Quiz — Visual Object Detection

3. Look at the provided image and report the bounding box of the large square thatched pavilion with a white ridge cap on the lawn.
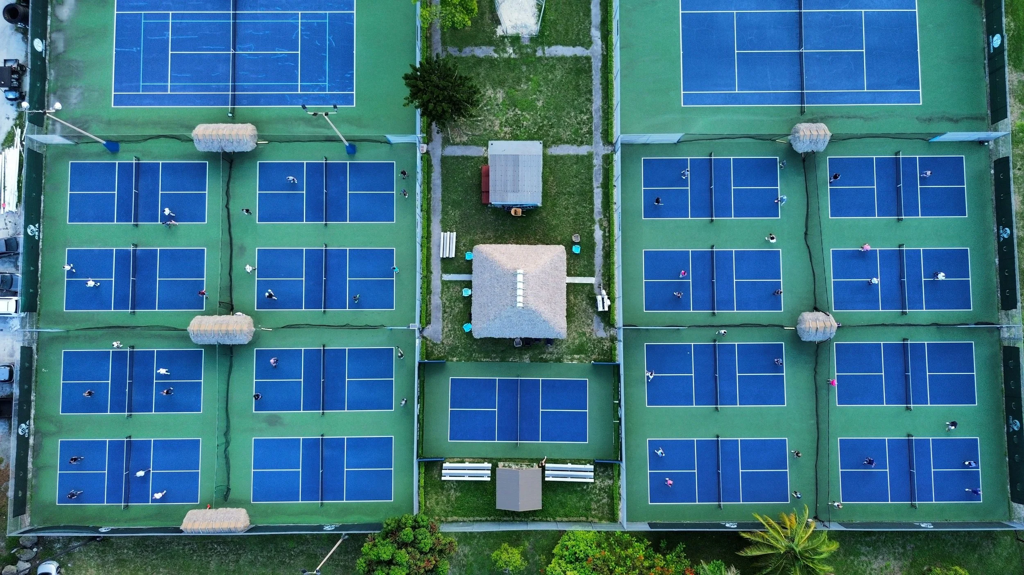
[471,244,568,340]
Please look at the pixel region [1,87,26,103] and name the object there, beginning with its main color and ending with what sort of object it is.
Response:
blue work vehicle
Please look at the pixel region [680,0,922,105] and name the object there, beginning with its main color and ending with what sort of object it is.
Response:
blue tennis court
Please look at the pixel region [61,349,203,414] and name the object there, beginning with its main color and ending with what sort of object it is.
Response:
blue sports court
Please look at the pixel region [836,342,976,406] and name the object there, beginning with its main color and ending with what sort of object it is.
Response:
blue sports court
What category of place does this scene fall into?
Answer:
sports ground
